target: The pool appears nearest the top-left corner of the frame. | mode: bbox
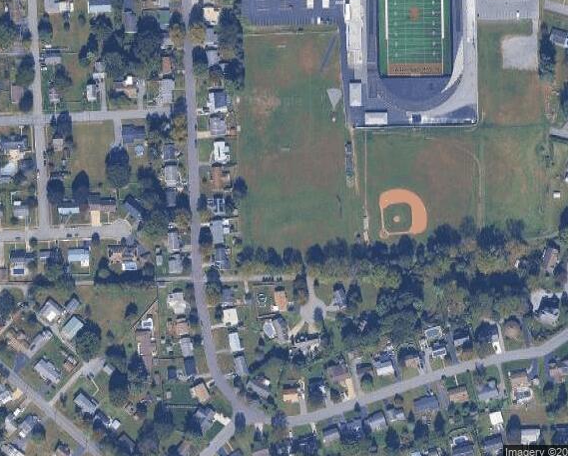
[0,160,18,176]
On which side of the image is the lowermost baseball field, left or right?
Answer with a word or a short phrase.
right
